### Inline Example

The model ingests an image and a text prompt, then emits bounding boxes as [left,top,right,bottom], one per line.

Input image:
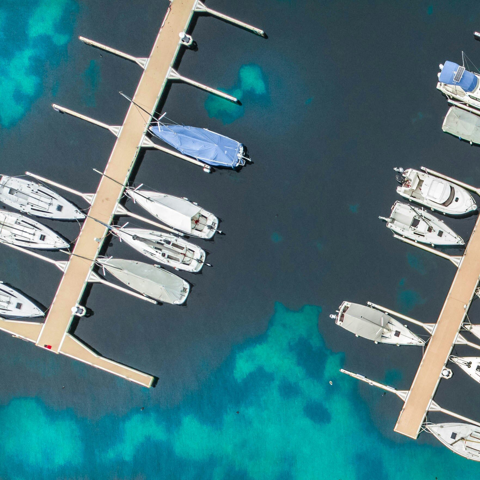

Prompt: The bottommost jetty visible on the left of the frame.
[58,333,155,387]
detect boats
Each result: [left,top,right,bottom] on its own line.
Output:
[449,348,480,384]
[430,56,480,111]
[385,168,480,221]
[76,212,208,271]
[57,246,194,301]
[327,301,434,364]
[0,282,52,329]
[89,168,222,240]
[379,199,472,260]
[420,412,480,461]
[0,207,76,262]
[115,90,252,168]
[0,174,91,232]
[441,107,480,149]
